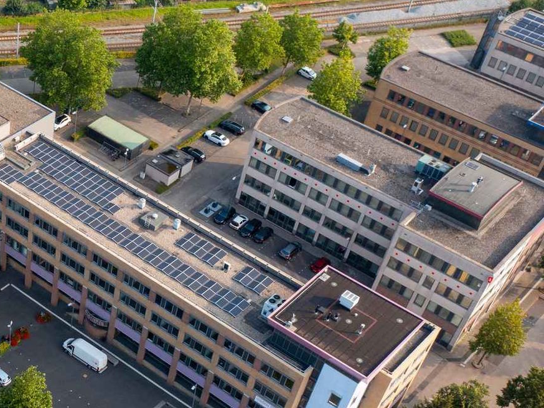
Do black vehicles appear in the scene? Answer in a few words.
Yes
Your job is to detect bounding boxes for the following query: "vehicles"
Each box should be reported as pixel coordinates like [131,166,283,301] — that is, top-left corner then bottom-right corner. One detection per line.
[311,255,334,272]
[64,336,109,369]
[0,367,9,386]
[251,97,271,111]
[214,205,237,223]
[239,217,263,236]
[219,117,245,134]
[205,130,231,145]
[252,224,277,243]
[279,240,304,258]
[229,212,252,229]
[182,141,207,160]
[53,111,72,127]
